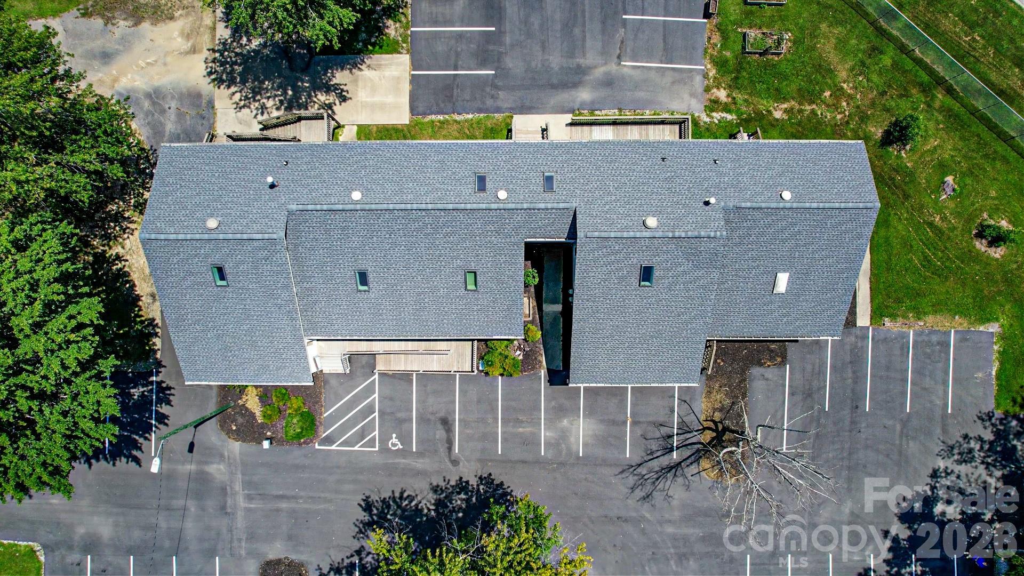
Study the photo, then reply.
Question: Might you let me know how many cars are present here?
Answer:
0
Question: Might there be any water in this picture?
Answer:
No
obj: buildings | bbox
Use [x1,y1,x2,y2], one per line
[139,139,879,387]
